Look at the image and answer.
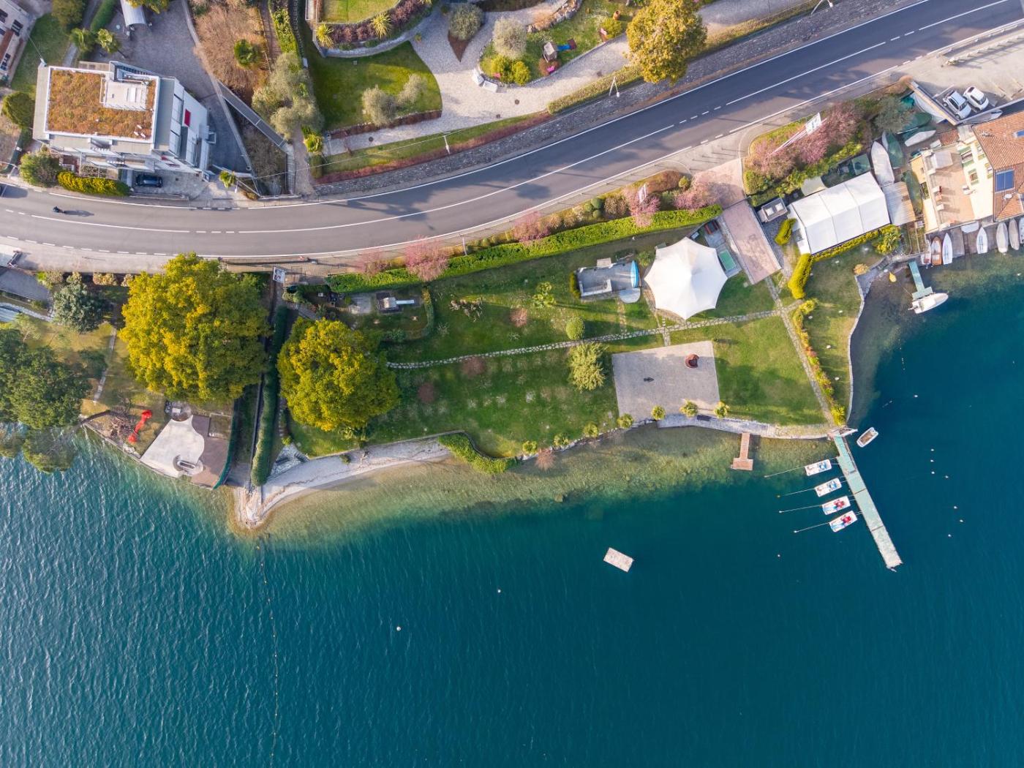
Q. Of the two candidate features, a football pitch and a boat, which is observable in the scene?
boat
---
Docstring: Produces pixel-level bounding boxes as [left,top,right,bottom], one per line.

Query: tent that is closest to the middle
[638,235,728,327]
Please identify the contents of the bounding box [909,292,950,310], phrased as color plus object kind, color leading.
white boat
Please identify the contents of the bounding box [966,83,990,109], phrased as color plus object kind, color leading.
white car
